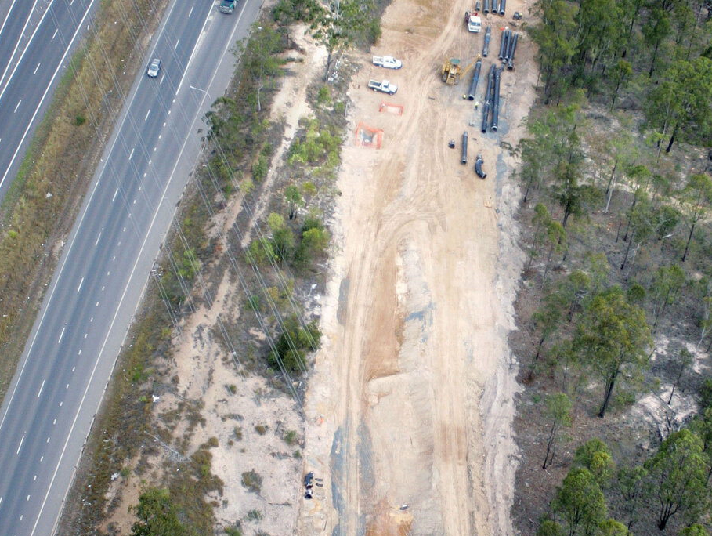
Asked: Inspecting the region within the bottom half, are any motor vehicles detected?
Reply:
No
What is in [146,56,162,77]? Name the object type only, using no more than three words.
car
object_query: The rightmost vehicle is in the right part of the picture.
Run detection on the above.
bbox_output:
[465,6,482,31]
